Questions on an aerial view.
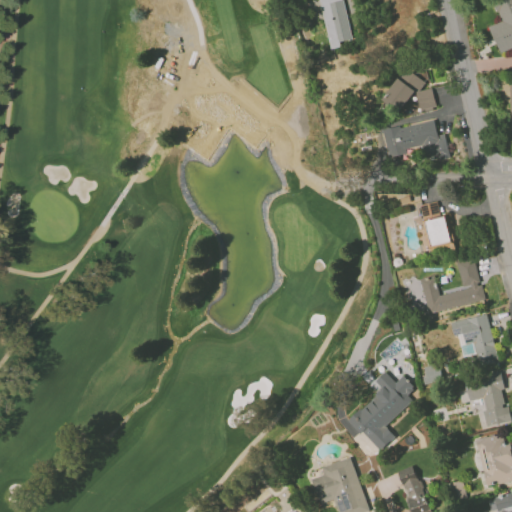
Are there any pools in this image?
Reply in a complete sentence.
Yes, there's a pool here.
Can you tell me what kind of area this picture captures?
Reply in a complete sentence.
What you see here is a golf course.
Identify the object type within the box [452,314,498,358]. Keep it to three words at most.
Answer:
house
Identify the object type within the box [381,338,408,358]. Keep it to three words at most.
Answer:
swimming pool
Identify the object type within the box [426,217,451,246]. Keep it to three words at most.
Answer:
building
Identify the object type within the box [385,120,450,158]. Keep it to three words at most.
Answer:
house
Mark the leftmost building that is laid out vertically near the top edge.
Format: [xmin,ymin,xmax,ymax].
[324,0,353,49]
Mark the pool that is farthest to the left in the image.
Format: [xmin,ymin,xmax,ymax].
[316,442,342,460]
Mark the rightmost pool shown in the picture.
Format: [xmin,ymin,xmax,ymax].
[460,341,476,358]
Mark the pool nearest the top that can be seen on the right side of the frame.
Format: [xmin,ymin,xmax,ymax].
[404,226,420,250]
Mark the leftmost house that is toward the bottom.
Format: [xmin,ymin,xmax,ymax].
[312,458,370,512]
